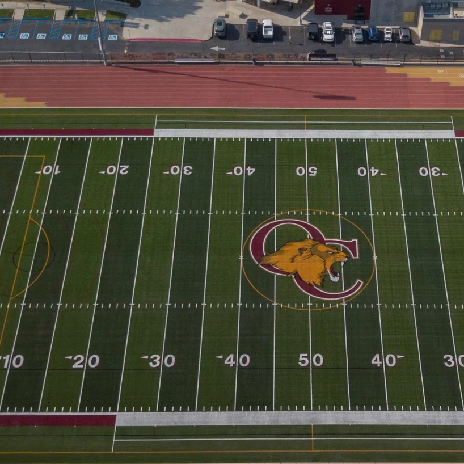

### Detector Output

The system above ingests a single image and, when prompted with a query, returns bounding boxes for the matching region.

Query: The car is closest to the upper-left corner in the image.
[213,17,227,36]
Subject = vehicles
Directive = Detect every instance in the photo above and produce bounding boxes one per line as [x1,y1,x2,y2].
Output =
[352,18,365,41]
[246,19,259,39]
[306,22,320,39]
[382,23,395,40]
[213,17,227,36]
[366,22,380,41]
[262,17,275,37]
[322,18,335,41]
[398,22,412,40]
